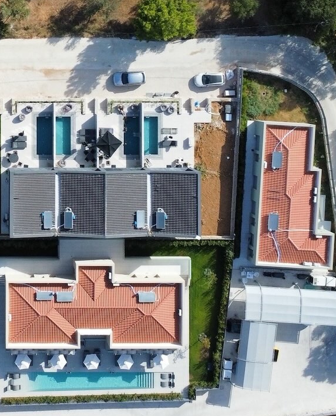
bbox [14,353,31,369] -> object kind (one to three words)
umbrella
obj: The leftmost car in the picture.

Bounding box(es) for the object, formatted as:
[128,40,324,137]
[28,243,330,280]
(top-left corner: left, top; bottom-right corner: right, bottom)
[115,71,147,87]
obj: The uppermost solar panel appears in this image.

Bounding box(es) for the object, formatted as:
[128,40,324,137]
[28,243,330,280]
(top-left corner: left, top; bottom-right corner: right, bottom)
[272,127,297,172]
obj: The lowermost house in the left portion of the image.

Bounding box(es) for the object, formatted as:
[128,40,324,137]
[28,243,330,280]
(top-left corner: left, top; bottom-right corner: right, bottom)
[2,257,183,347]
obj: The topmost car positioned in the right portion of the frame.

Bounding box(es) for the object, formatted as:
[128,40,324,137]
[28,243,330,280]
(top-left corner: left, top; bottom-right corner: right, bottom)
[195,72,228,89]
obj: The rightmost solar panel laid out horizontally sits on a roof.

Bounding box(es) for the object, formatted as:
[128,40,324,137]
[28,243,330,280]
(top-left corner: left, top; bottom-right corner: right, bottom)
[119,283,173,303]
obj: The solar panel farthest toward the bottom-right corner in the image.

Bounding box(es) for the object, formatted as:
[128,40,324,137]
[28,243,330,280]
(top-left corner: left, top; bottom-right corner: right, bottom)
[268,211,284,262]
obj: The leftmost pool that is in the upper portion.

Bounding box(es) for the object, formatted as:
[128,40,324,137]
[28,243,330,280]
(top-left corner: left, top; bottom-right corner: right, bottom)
[32,113,58,160]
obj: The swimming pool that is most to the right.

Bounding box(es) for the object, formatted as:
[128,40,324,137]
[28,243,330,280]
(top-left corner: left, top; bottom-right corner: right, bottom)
[143,113,162,158]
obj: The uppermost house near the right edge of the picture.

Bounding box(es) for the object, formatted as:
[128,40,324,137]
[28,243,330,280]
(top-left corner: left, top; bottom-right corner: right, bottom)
[244,120,333,268]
